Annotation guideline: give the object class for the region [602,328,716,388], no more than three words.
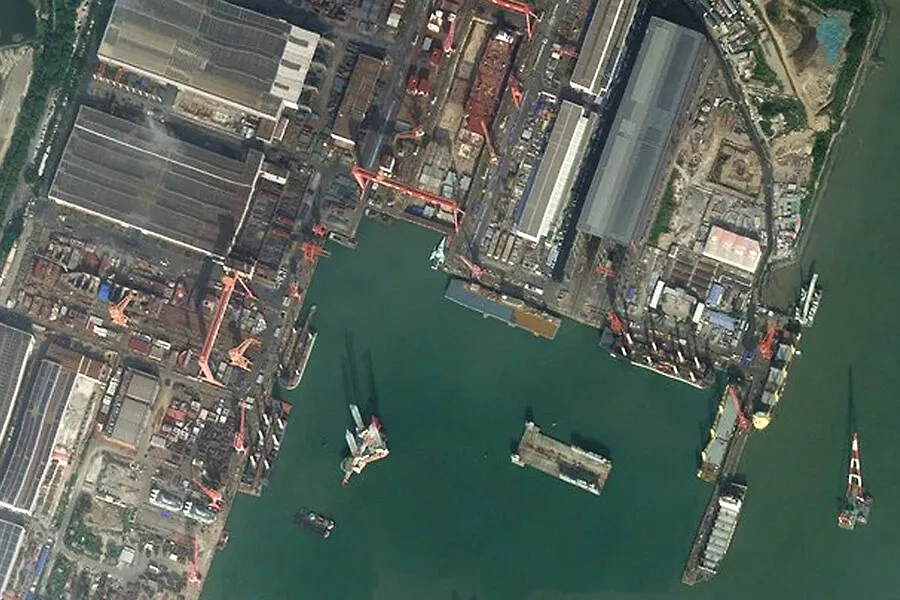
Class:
ship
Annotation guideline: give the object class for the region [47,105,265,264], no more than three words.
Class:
shed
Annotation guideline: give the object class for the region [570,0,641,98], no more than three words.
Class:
building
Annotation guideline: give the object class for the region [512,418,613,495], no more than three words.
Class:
ship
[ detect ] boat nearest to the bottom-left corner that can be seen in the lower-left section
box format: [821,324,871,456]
[149,489,182,510]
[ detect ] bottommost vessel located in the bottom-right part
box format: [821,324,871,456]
[693,484,747,585]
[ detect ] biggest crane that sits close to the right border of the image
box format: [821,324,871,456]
[838,429,871,531]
